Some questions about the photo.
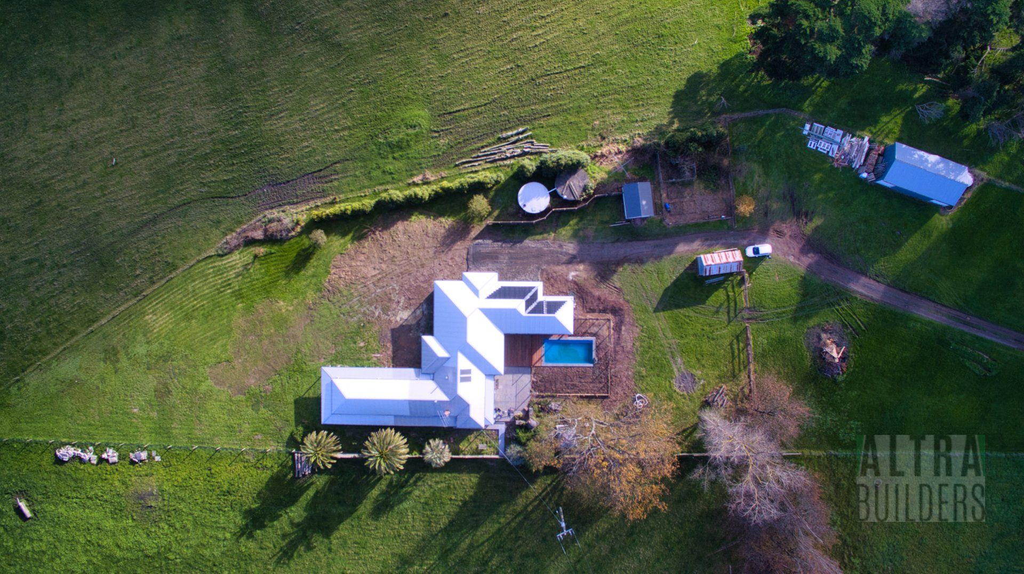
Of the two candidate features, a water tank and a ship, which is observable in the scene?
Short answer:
water tank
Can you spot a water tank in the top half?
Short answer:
Yes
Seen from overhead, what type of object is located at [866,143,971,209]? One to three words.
shed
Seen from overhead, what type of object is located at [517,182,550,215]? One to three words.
water tank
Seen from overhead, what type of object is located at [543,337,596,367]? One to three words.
swimming pool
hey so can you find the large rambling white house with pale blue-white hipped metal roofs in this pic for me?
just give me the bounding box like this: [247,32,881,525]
[321,272,574,428]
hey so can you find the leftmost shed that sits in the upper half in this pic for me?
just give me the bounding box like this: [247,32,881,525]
[621,182,653,220]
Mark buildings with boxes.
[321,272,574,428]
[696,250,742,276]
[866,143,971,209]
[621,182,653,220]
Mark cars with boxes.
[745,245,772,257]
